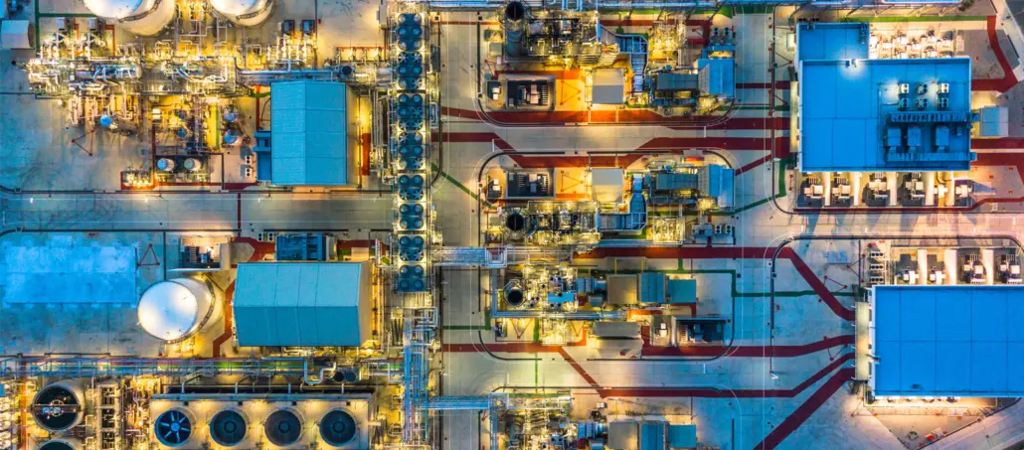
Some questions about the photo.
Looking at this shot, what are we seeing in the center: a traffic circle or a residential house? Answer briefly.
residential house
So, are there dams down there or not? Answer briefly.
No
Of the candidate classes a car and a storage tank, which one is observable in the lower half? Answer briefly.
storage tank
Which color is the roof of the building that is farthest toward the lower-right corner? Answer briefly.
blue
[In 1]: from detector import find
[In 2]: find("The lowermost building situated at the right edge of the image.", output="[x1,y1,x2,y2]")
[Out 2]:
[861,282,1024,399]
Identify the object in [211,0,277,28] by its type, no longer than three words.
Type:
storage tank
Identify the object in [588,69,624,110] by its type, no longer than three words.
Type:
house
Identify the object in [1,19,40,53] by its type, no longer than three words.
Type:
shed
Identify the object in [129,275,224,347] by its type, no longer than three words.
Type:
storage tank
